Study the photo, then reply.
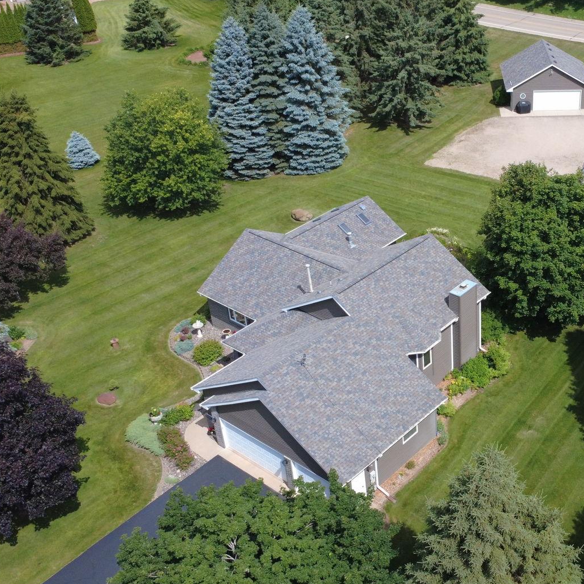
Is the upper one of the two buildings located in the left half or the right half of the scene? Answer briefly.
right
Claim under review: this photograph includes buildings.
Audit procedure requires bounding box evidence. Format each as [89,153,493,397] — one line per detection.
[500,40,584,112]
[190,196,492,514]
